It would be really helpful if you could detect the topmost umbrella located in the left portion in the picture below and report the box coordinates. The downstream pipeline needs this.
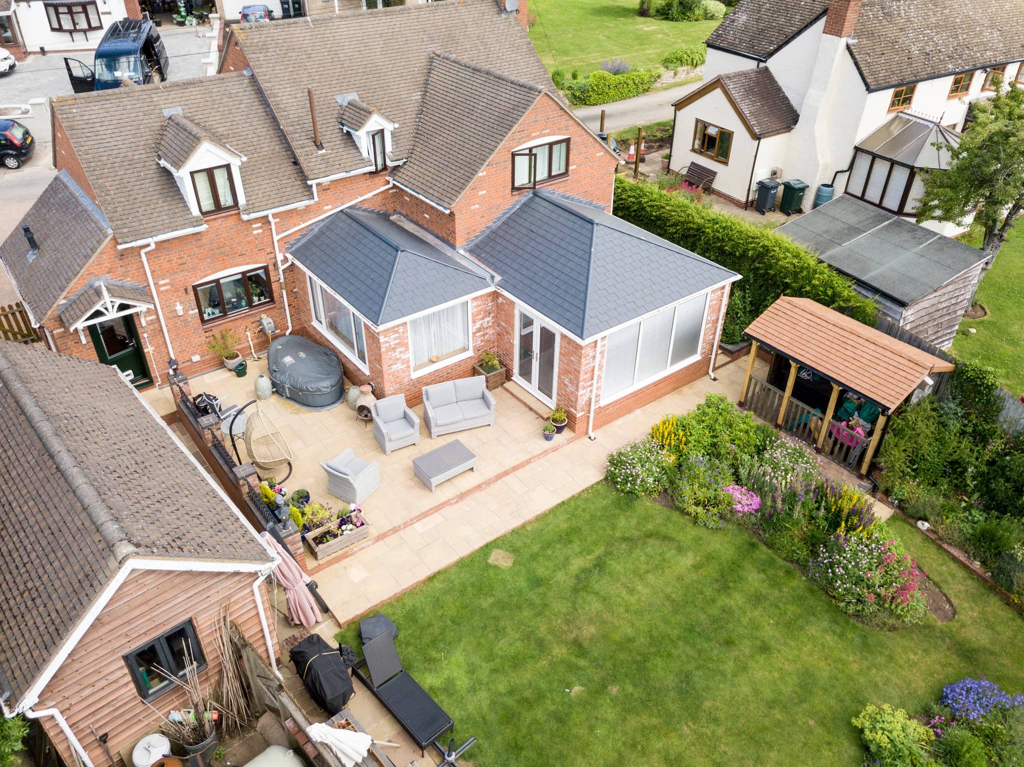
[260,512,328,643]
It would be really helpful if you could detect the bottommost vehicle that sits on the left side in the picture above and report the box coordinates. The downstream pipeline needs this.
[0,105,44,160]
